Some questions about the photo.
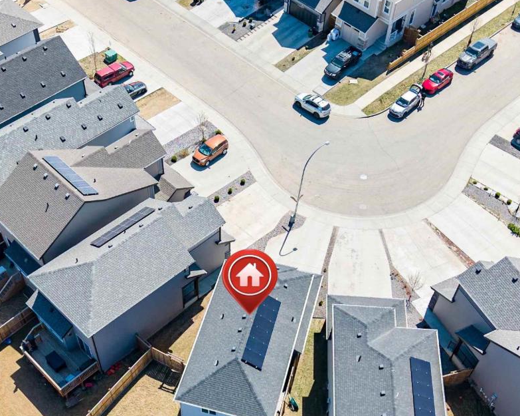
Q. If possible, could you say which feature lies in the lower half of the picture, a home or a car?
home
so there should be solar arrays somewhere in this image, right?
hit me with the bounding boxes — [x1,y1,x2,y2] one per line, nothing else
[409,358,435,416]
[43,156,98,194]
[91,207,154,248]
[241,295,281,370]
